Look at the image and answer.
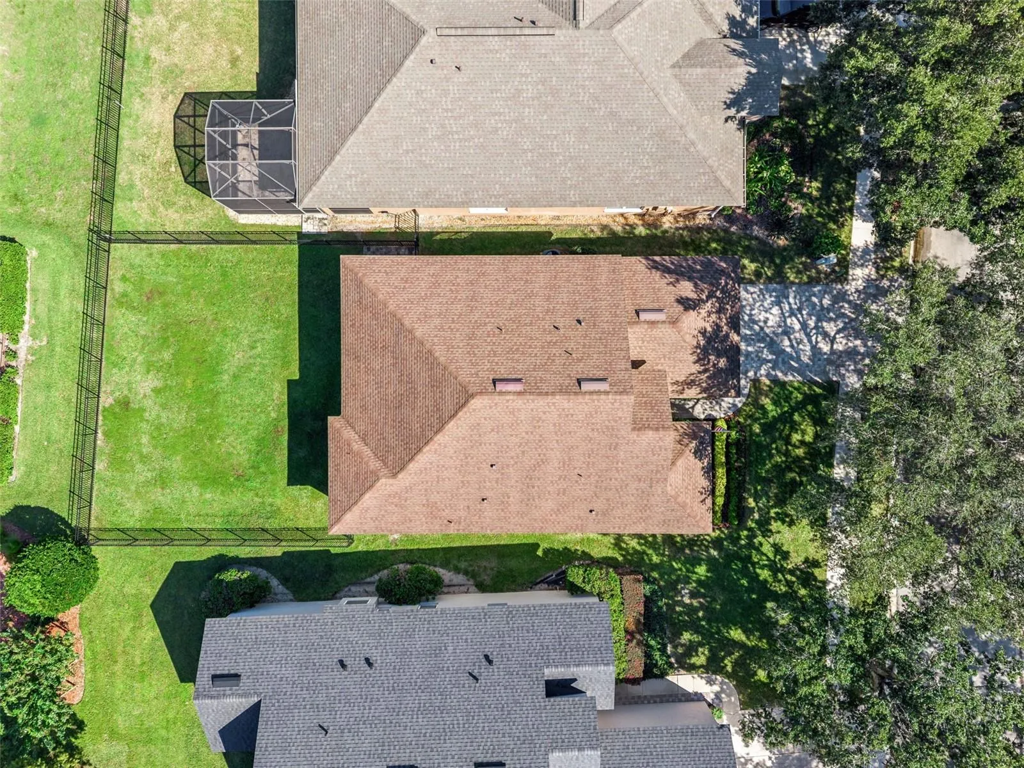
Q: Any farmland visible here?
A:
No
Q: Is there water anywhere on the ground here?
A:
No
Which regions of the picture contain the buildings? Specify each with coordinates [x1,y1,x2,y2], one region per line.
[195,587,737,768]
[294,0,791,223]
[328,256,740,534]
